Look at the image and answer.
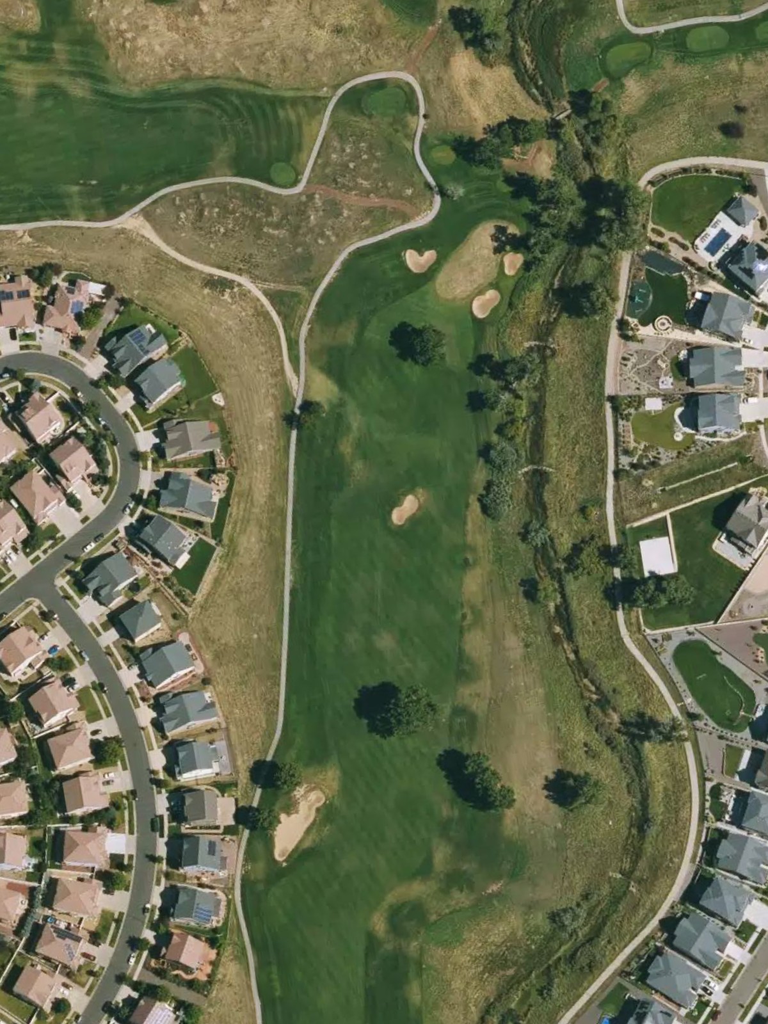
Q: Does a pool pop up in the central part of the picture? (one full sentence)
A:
No, there's no pool to be seen in the central part of the picture.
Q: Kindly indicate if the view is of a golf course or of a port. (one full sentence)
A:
It's a golf course.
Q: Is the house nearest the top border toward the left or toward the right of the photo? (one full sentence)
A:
You can find the house nearest the top border on the right side of the picture.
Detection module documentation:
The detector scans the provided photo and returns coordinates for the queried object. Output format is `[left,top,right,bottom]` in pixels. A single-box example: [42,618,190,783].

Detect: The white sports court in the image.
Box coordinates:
[640,537,674,577]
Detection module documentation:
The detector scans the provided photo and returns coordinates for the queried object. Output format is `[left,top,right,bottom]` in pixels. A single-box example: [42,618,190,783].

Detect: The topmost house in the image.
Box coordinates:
[725,196,758,230]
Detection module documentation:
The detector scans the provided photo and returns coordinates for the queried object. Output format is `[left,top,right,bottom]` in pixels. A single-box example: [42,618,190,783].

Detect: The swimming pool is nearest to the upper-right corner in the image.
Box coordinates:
[703,228,733,257]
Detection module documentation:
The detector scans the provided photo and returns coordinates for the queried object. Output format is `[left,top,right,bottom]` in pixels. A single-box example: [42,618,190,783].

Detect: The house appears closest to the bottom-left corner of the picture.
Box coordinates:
[12,965,57,1009]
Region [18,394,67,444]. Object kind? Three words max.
house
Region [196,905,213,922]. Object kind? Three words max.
solar panel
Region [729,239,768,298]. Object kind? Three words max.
house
